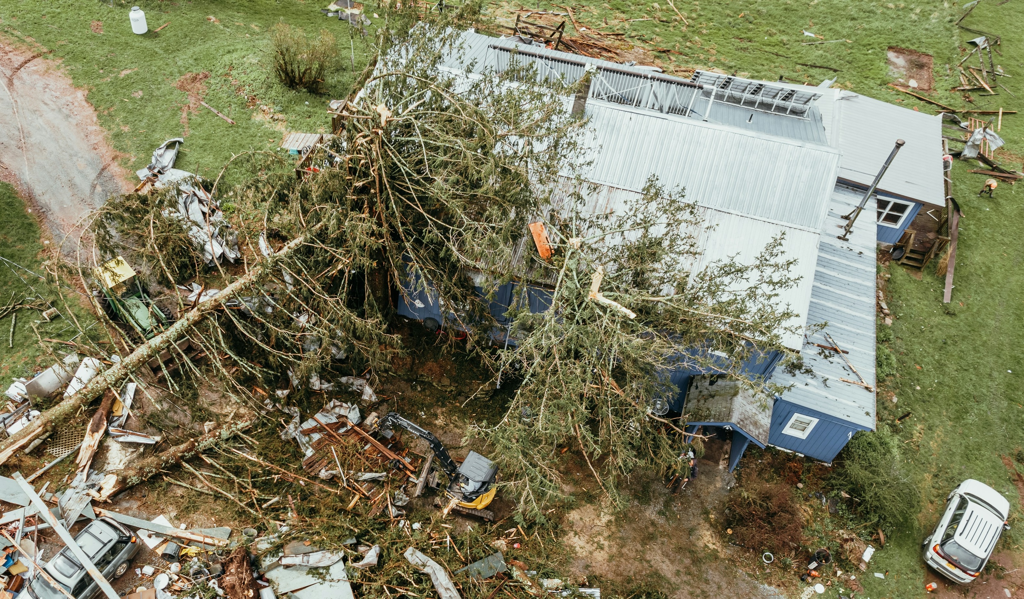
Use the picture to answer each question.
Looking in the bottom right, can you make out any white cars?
Yes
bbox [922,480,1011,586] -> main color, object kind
white car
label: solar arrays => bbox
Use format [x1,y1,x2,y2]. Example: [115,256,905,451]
[690,68,827,120]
